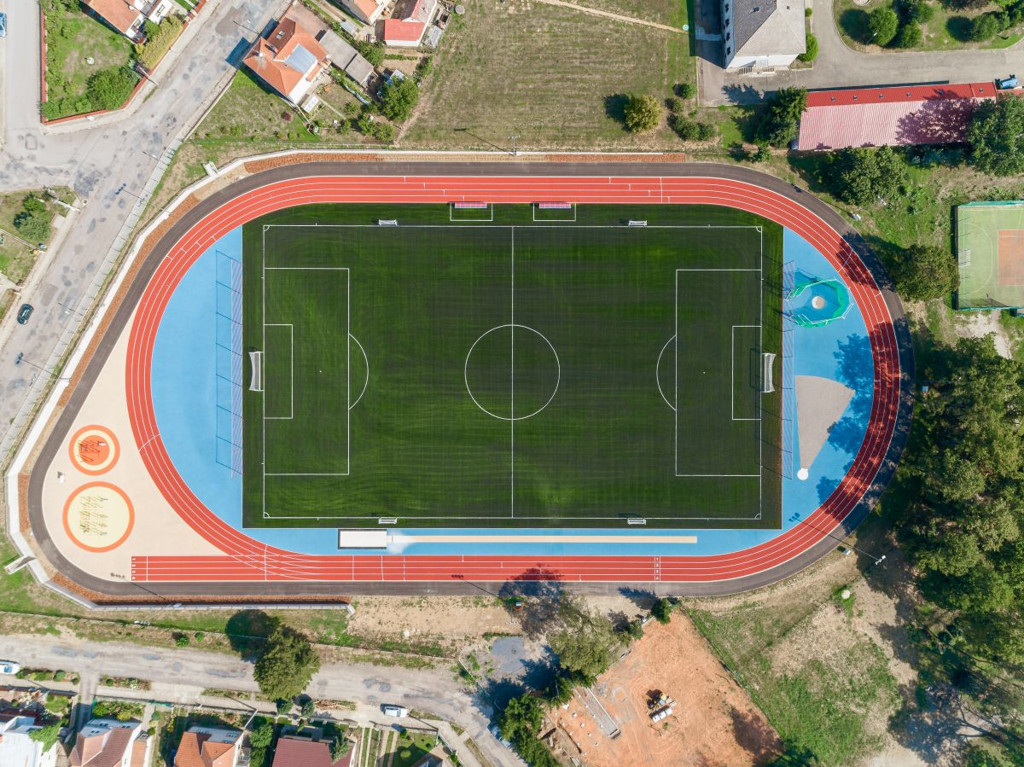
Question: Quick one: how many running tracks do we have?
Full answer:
Altogether the scene contains 1 running track.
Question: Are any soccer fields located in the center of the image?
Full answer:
Yes, the scene does show a soccer field in the center of the image.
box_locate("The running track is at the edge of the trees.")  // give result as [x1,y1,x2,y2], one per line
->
[125,176,901,582]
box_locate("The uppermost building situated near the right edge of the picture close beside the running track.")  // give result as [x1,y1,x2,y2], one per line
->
[793,82,1004,154]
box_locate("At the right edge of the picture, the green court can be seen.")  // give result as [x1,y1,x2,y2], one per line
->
[960,204,1024,307]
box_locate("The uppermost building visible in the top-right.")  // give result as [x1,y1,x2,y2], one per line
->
[726,0,803,78]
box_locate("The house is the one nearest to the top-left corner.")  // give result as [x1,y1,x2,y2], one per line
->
[84,0,149,43]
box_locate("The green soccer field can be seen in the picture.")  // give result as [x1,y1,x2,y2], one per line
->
[242,203,783,529]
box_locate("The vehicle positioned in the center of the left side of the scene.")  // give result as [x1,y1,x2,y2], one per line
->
[14,303,31,325]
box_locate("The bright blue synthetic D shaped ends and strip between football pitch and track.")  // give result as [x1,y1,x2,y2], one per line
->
[151,225,874,555]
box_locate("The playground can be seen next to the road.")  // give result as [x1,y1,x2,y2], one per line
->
[42,287,228,582]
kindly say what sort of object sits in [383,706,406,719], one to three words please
vehicle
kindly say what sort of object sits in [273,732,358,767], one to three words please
house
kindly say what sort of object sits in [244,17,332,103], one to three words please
house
